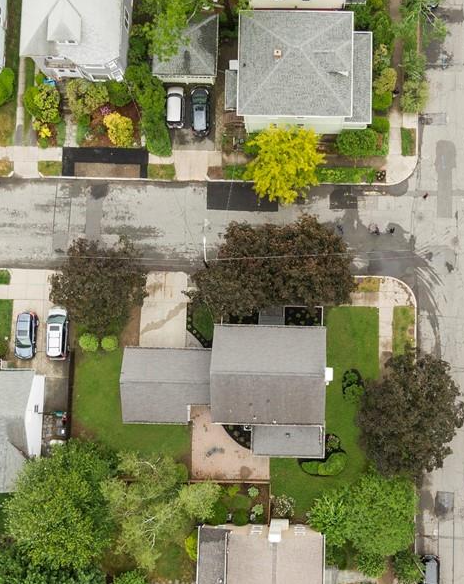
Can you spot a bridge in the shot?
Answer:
No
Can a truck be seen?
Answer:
No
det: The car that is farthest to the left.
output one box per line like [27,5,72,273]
[12,310,40,360]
